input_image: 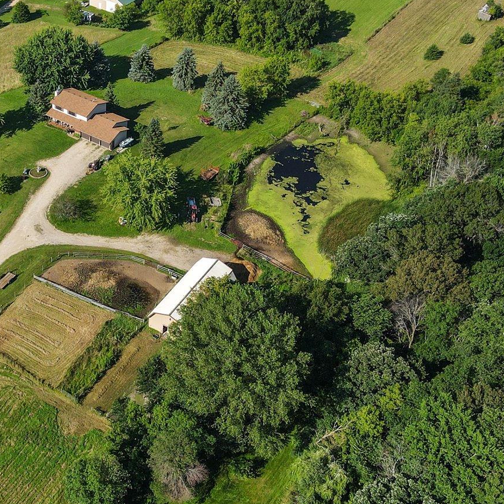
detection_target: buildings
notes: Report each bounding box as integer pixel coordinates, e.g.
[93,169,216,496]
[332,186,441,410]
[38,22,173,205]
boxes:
[90,0,139,12]
[148,258,236,342]
[48,86,126,151]
[478,5,499,21]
